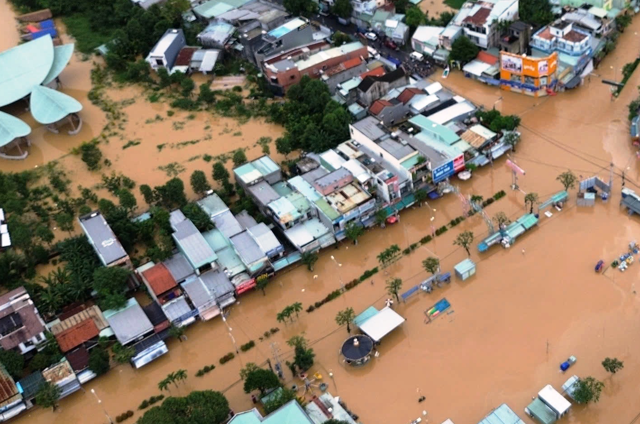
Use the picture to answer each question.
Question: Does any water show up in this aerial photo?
Yes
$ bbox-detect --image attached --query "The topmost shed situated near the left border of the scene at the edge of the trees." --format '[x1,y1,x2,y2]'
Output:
[15,8,56,33]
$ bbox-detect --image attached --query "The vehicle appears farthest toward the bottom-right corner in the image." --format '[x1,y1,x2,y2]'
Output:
[560,352,579,371]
